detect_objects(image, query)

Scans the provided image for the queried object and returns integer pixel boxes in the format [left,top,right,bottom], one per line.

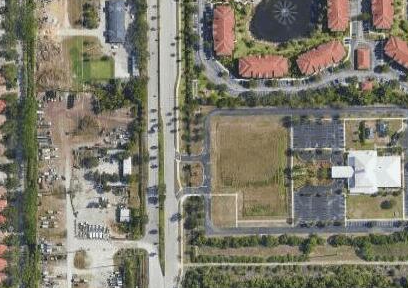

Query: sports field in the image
[212,115,292,226]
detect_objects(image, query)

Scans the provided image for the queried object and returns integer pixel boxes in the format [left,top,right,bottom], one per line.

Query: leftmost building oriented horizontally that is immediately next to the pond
[241,55,289,78]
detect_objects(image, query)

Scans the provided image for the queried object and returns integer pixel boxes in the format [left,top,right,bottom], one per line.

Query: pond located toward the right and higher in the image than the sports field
[251,0,317,42]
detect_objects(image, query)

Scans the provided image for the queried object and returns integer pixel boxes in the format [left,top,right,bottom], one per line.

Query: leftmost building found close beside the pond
[214,7,235,55]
